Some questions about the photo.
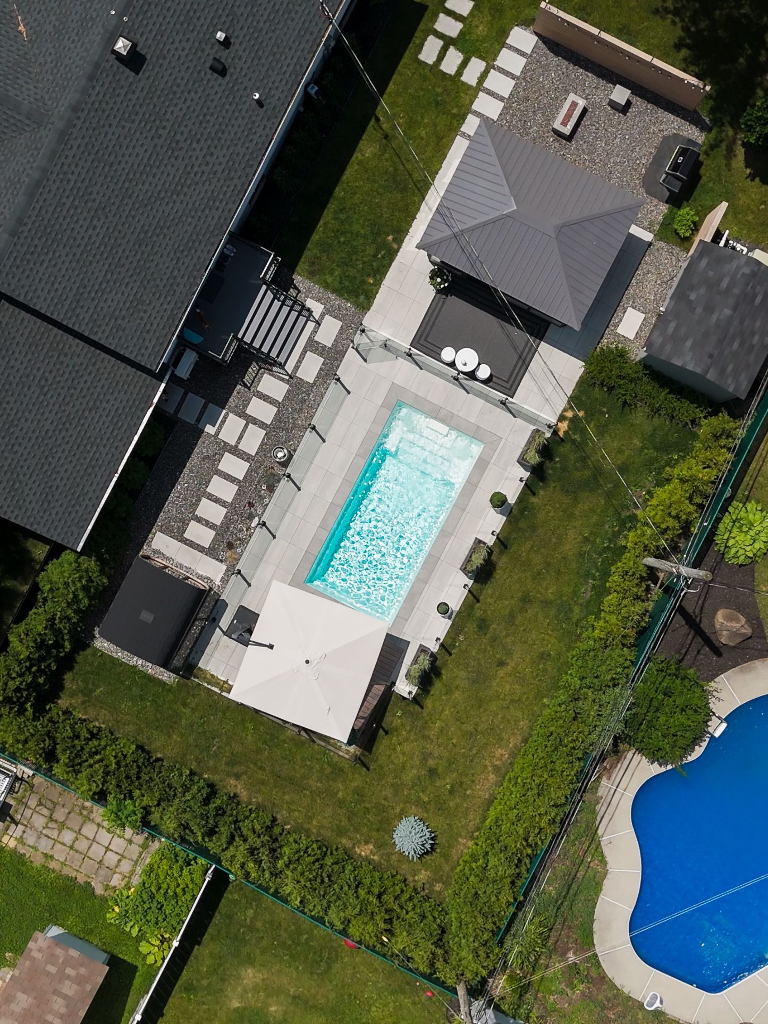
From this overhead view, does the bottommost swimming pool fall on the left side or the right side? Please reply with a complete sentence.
It is on the right.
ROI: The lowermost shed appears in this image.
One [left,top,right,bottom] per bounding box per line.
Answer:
[4,915,119,1024]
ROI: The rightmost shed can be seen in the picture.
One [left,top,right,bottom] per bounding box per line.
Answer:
[636,240,768,403]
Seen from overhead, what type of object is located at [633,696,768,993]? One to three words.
swimming pool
